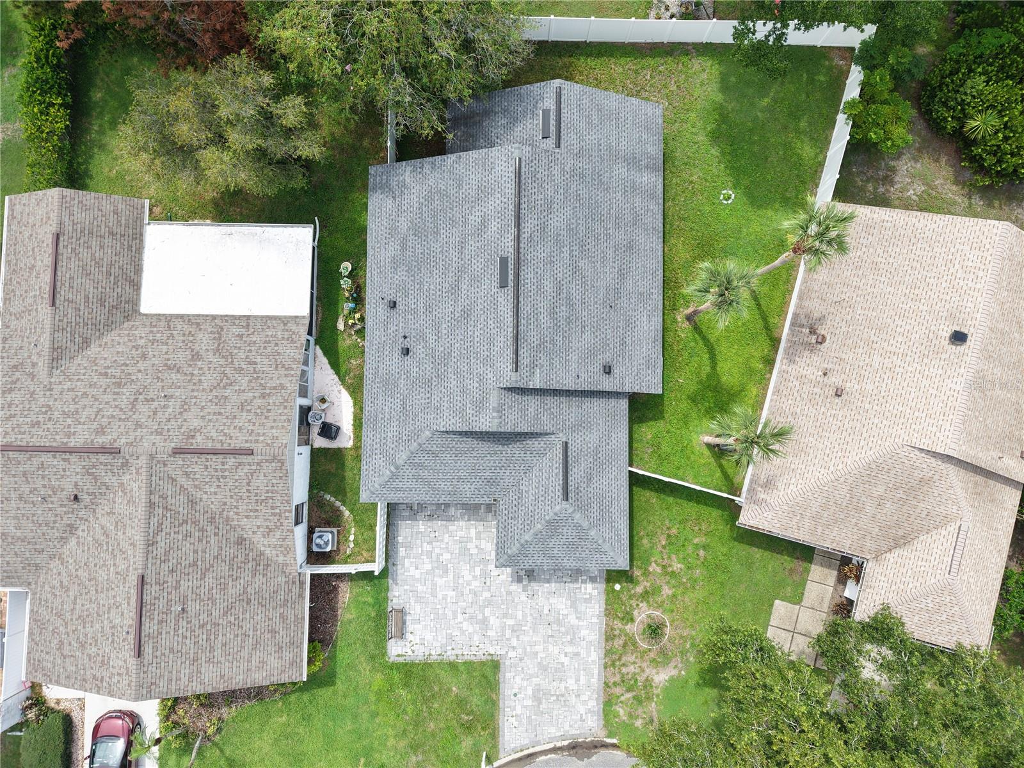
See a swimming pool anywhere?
No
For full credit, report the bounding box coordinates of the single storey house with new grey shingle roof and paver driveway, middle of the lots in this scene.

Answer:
[360,79,663,570]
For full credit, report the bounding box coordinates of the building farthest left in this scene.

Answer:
[0,187,321,703]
